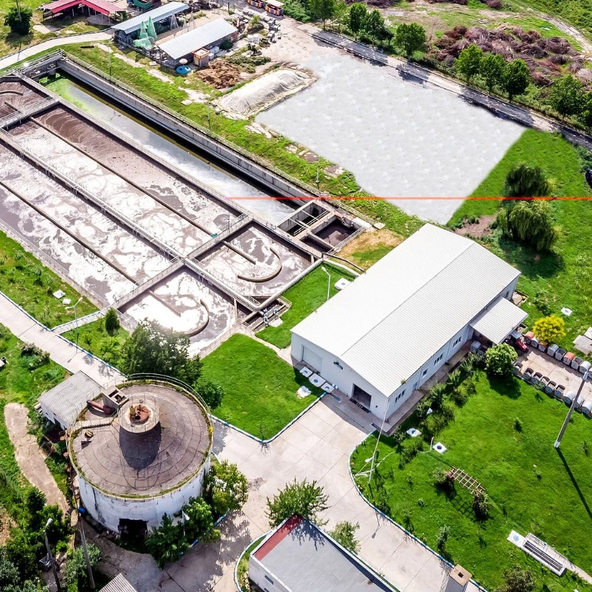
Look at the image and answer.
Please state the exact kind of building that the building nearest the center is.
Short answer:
warehouse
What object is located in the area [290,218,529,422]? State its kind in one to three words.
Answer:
warehouse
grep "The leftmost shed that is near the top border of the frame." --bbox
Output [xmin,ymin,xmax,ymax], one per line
[41,0,124,27]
